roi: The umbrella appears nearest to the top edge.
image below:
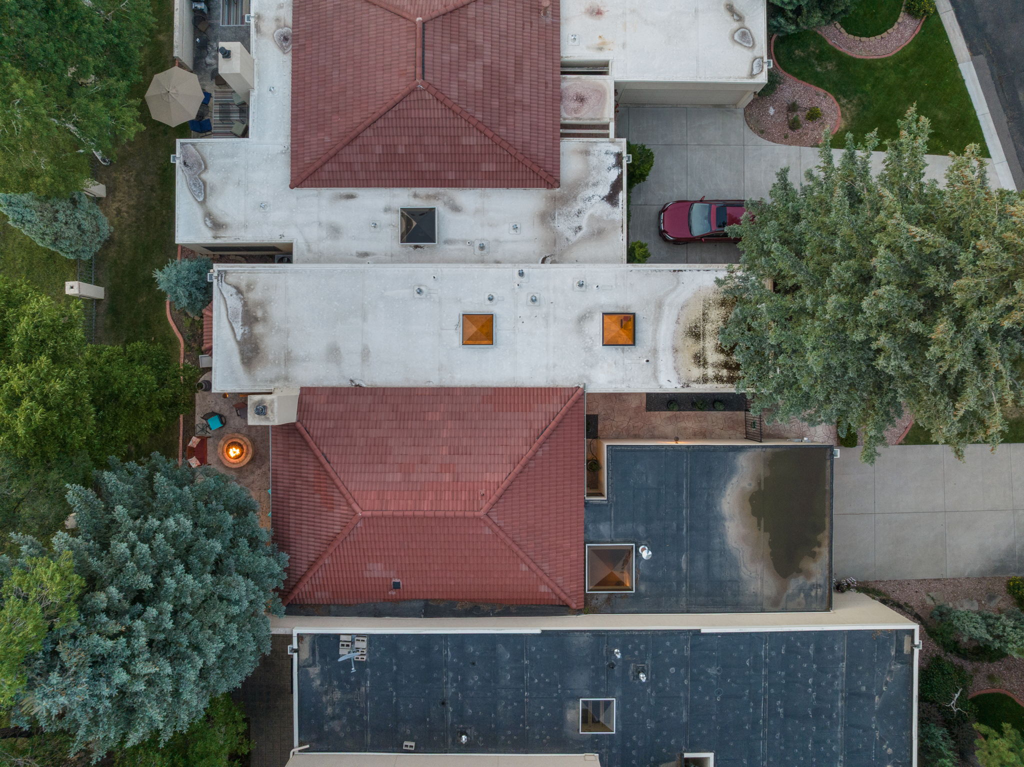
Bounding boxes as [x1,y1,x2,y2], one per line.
[145,66,206,128]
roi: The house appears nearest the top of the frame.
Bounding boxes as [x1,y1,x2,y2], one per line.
[170,0,773,264]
